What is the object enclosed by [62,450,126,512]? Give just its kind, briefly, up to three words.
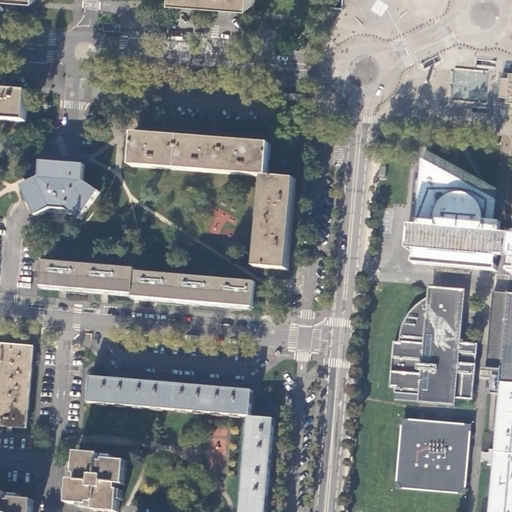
building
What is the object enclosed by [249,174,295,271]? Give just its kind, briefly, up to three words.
building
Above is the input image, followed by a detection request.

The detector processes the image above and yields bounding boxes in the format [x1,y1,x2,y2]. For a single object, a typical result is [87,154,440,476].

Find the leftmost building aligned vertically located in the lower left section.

[0,342,37,430]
